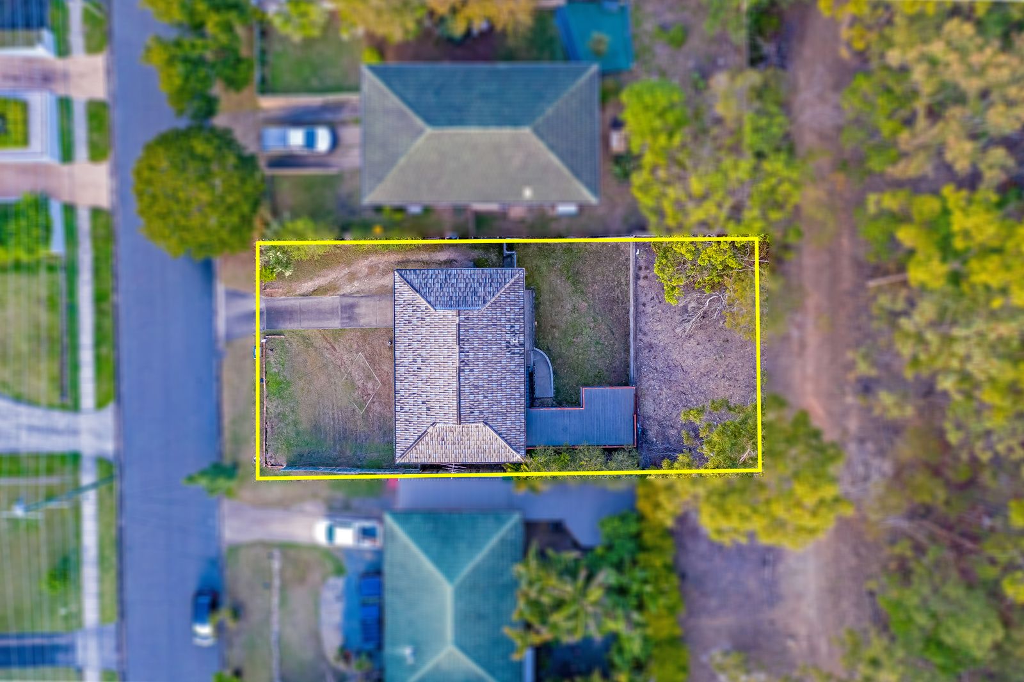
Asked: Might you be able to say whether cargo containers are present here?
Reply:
No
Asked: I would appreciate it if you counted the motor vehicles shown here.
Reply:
4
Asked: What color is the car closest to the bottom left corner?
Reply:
blue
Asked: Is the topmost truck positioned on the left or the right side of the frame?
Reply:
left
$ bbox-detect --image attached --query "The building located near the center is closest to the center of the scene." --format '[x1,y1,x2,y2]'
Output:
[393,267,526,464]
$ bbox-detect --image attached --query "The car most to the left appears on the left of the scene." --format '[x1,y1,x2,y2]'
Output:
[190,585,223,644]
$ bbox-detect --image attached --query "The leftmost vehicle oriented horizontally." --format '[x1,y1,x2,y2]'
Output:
[260,122,334,155]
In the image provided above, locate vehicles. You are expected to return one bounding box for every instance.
[354,570,382,644]
[316,517,382,551]
[190,585,223,644]
[260,122,334,155]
